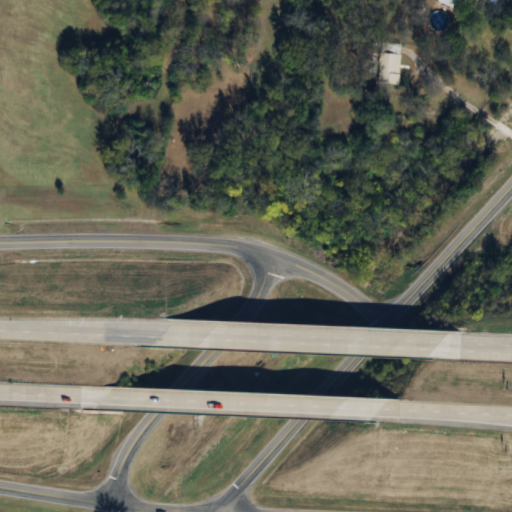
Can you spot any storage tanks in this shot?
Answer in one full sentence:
No, no storage tank is visible in the view.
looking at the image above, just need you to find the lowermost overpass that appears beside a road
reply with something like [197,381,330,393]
[74,386,408,424]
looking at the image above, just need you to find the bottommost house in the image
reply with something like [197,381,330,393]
[379,44,409,84]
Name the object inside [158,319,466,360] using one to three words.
overpass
